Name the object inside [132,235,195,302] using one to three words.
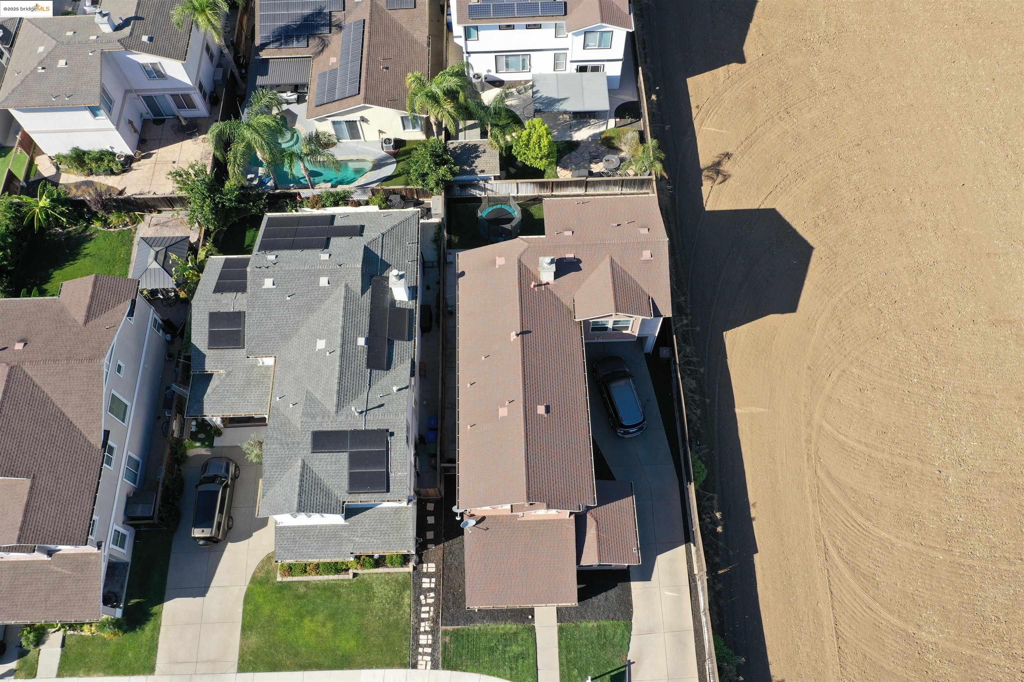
gazebo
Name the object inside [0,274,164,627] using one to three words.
house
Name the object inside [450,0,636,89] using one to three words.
house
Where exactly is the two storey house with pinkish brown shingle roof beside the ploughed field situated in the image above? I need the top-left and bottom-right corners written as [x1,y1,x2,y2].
[455,194,672,612]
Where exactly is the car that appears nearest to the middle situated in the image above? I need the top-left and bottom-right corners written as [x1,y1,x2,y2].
[595,358,646,438]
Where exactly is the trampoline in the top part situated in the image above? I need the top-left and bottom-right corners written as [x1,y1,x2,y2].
[480,191,520,242]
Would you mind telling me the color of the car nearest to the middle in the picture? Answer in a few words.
black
